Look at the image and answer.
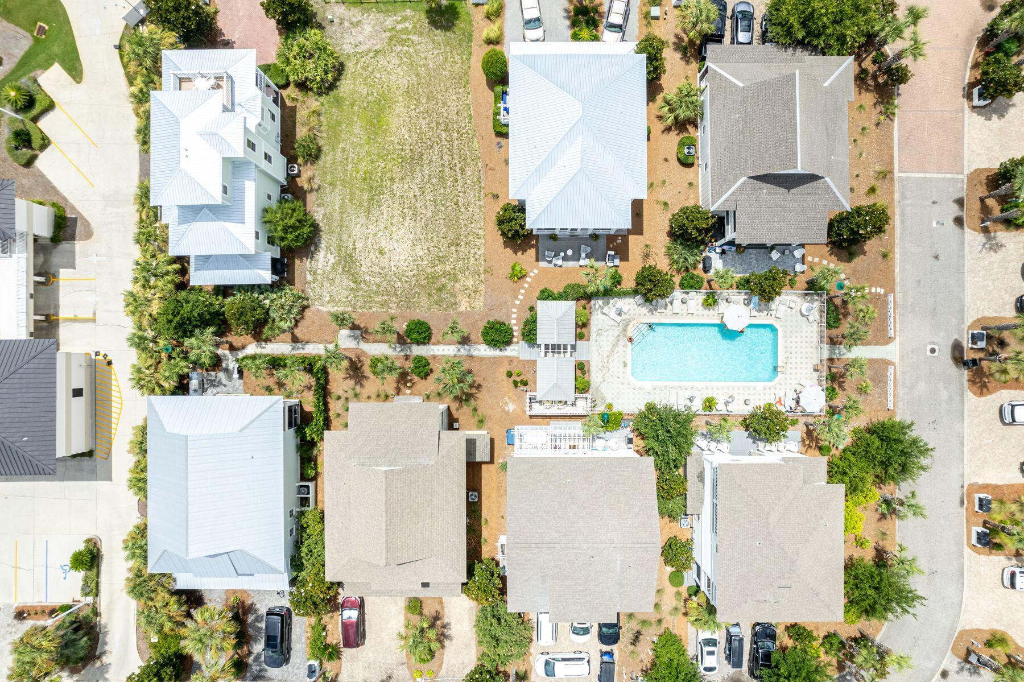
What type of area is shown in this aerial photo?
residential area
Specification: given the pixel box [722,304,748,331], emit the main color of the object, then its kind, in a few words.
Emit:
white umbrella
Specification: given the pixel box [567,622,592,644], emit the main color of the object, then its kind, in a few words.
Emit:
white car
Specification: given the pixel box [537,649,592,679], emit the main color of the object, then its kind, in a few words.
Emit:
white car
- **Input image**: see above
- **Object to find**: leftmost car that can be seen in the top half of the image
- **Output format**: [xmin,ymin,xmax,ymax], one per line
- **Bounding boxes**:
[519,0,545,42]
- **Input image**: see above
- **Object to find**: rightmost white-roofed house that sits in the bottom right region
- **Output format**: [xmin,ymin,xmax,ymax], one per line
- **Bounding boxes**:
[680,448,845,622]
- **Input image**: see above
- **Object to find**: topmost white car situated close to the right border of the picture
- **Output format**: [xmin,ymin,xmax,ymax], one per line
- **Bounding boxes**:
[999,401,1024,422]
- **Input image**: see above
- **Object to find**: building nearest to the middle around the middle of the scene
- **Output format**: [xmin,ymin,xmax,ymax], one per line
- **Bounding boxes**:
[536,299,577,402]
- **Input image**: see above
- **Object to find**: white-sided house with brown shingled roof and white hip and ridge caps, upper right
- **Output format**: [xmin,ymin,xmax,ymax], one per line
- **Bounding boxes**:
[695,43,854,247]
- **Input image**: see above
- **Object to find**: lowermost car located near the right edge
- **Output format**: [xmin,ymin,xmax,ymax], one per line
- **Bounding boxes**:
[1003,564,1024,587]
